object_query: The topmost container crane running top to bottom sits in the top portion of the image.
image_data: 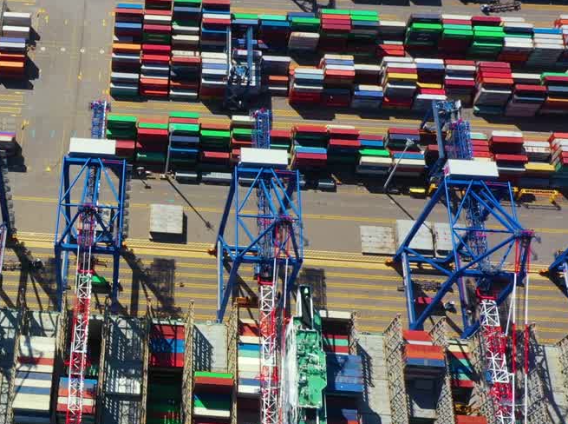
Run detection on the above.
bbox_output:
[216,29,251,115]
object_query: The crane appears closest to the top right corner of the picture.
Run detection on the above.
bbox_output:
[415,103,465,190]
